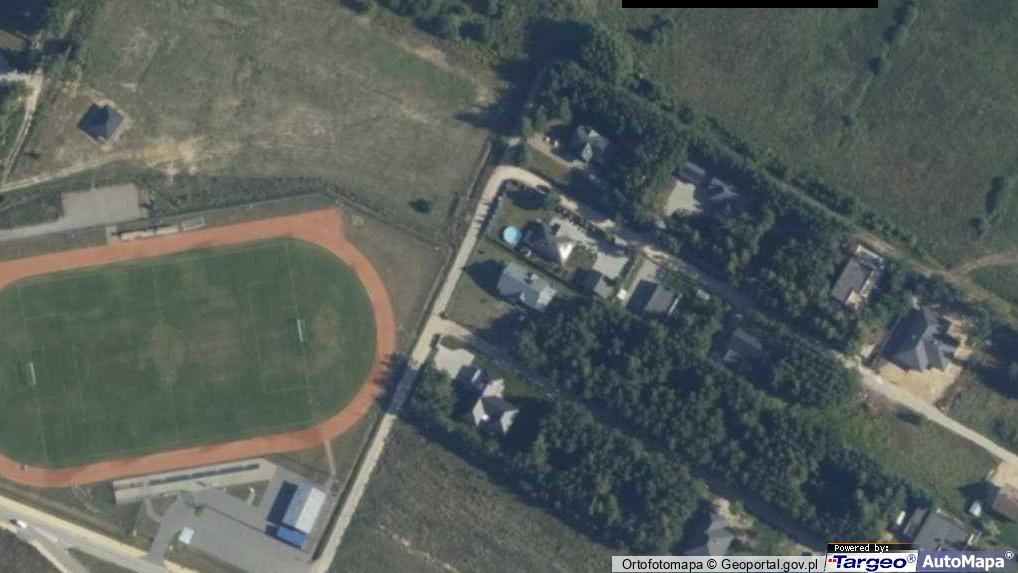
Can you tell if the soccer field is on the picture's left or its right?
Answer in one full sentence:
It is on the left.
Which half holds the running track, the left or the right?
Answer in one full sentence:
It is on the left.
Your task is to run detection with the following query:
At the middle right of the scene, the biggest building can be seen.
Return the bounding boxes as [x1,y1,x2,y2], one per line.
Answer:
[879,308,956,372]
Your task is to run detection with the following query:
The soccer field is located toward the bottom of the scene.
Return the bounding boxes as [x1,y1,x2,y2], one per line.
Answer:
[0,236,376,469]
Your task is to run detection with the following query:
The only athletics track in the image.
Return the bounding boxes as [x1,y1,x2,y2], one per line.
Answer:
[0,208,393,485]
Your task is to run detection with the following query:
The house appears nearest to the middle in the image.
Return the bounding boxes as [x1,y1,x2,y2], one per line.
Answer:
[498,265,556,309]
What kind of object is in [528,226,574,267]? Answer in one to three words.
building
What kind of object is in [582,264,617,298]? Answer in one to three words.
house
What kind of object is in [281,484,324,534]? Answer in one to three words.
building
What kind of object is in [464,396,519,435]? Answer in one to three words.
house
